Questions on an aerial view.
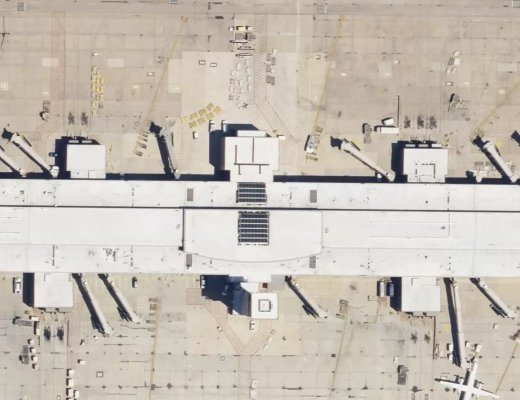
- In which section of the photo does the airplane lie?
bottom right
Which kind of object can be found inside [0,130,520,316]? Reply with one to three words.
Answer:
building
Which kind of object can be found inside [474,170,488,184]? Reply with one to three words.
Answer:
jet bridge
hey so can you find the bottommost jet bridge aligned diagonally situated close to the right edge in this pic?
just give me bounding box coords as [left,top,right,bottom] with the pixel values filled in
[474,277,519,320]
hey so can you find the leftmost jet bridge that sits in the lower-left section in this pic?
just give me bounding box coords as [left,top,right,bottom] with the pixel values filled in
[79,273,117,339]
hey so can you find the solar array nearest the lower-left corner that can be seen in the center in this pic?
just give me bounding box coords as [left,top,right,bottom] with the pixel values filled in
[238,212,269,244]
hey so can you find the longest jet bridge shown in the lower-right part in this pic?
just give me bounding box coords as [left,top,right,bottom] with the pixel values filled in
[451,277,470,372]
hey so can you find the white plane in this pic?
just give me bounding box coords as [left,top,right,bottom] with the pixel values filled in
[439,358,497,400]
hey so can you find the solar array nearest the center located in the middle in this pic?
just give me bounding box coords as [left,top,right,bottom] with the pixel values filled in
[237,181,267,205]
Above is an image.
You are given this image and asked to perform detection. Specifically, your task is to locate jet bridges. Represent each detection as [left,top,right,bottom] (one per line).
[336,142,392,183]
[477,138,516,184]
[79,273,117,339]
[286,275,331,321]
[451,277,470,372]
[104,273,143,326]
[159,130,180,181]
[0,144,27,179]
[8,130,58,179]
[474,170,488,184]
[474,277,519,320]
